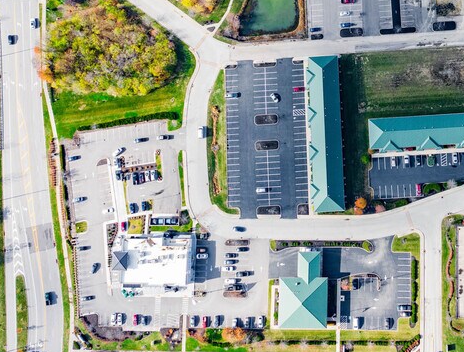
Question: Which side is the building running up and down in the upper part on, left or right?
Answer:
right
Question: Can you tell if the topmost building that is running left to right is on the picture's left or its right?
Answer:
right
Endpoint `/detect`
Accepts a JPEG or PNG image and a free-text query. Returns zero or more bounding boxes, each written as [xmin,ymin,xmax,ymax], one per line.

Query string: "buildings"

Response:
[305,57,345,213]
[279,252,329,329]
[369,113,464,153]
[112,235,198,292]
